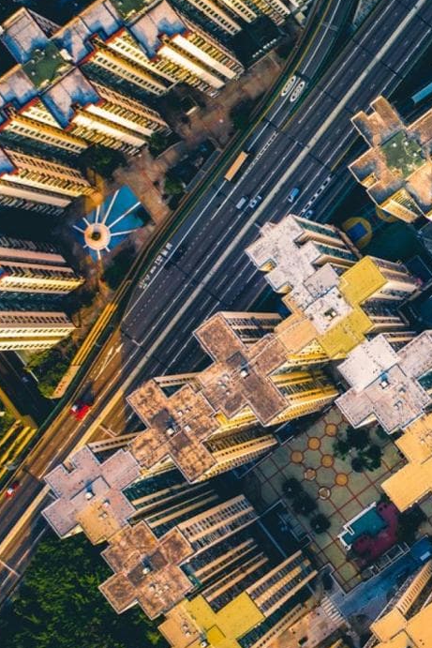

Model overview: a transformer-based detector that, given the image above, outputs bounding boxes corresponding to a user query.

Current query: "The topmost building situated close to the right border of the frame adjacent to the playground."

[347,97,432,223]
